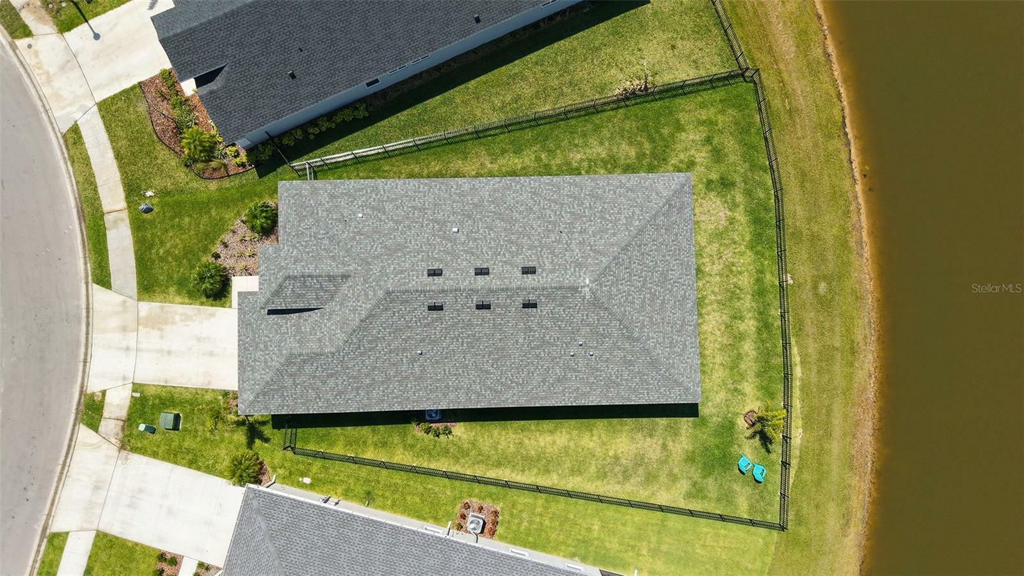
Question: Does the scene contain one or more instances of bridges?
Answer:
No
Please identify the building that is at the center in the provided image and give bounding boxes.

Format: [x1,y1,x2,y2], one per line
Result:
[236,171,702,418]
